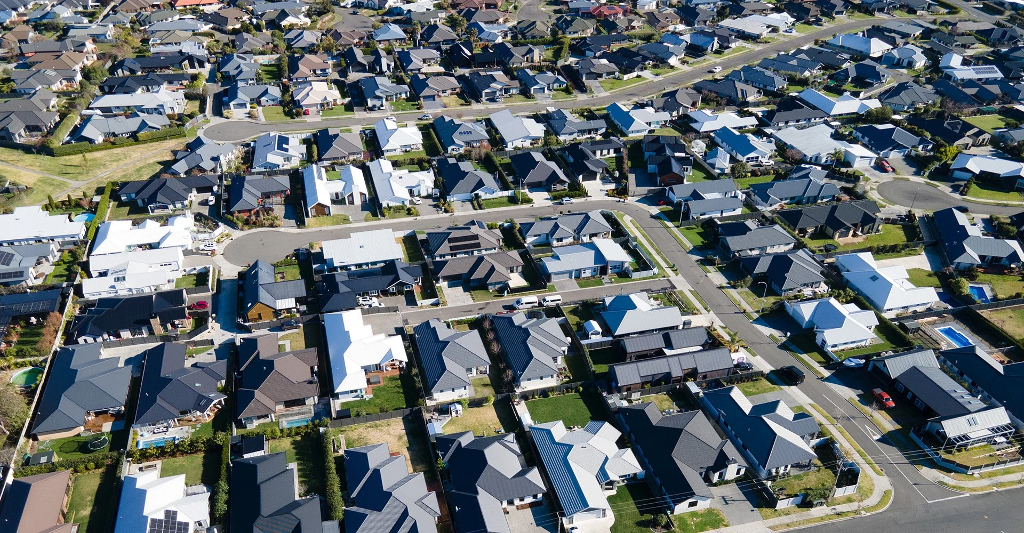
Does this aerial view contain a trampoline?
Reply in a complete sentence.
Yes, there is a trampoline in the image.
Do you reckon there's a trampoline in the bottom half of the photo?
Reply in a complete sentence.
Yes, the scene does show a trampoline in the bottom half of the photo.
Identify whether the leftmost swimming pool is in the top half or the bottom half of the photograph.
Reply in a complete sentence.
The bottom half of the photo is where the leftmost swimming pool is.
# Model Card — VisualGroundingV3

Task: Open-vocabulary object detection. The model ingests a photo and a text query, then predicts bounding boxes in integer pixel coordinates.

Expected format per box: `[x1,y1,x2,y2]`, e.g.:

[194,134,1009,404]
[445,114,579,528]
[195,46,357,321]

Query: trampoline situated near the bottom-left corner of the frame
[82,424,110,451]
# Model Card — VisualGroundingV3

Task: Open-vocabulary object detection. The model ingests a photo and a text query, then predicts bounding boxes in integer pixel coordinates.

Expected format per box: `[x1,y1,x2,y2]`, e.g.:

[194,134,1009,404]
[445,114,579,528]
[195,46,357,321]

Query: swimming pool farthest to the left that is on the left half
[7,366,41,388]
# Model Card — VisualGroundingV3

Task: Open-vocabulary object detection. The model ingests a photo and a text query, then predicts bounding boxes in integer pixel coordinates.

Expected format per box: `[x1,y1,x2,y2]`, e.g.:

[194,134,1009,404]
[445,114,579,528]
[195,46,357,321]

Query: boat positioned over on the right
[832,357,870,371]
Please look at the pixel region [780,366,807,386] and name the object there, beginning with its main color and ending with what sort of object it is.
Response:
black car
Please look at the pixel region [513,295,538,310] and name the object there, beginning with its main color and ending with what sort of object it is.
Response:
white vehicle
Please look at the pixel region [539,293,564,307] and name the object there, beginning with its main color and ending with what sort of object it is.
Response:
white vehicle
